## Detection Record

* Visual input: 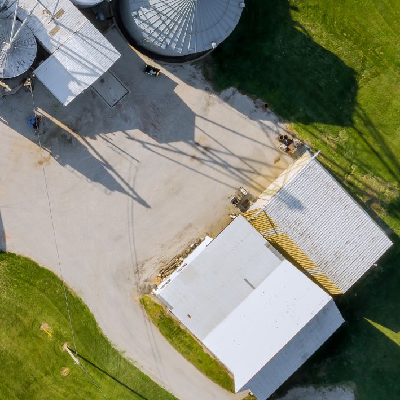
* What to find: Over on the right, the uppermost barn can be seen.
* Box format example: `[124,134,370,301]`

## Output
[240,151,393,293]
